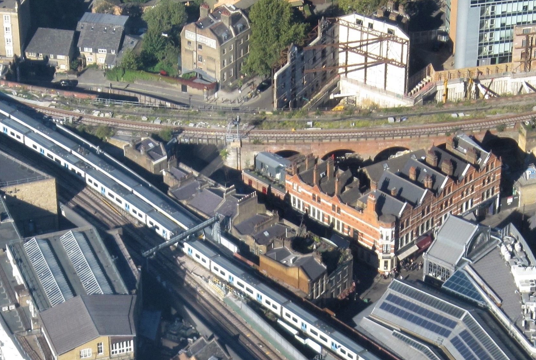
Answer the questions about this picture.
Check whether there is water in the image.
No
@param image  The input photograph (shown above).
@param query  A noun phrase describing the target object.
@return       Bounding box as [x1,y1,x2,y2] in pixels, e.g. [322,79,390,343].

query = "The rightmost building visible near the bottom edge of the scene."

[466,223,536,360]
